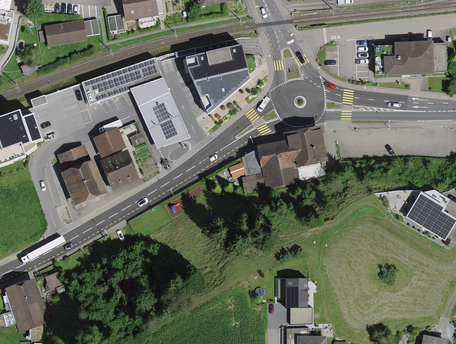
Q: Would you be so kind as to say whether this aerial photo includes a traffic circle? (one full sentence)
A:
Yes, there's a traffic circle here.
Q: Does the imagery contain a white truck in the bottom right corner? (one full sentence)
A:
No, no white truck can be made out in the bottom right corner.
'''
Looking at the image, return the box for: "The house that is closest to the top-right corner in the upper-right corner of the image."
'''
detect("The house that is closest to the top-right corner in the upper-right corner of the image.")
[384,41,447,78]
